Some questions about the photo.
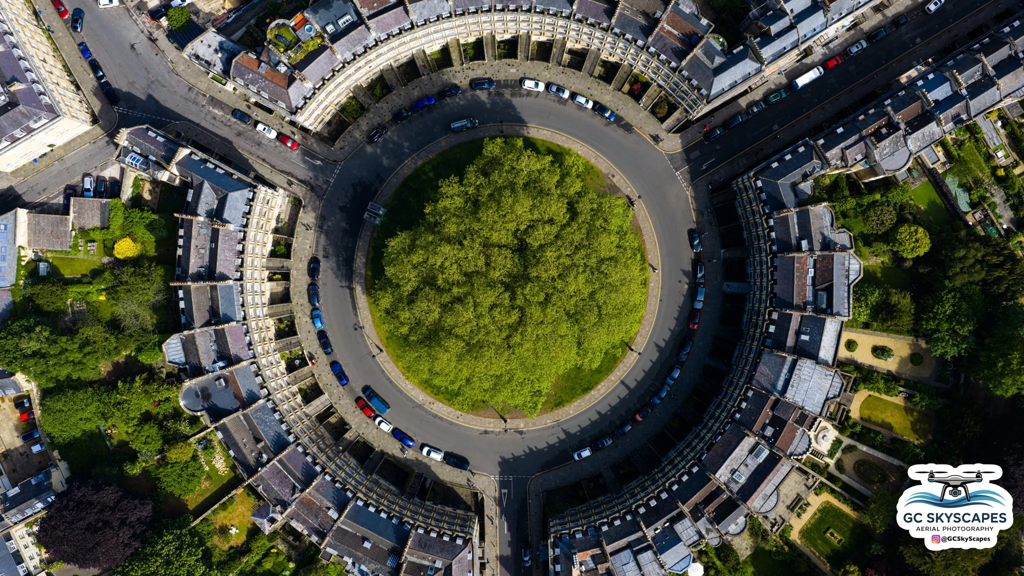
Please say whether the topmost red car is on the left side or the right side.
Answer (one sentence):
You can find the topmost red car on the left side of the picture.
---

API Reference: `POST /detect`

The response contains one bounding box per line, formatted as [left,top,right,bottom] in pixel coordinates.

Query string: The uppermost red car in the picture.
[51,0,71,20]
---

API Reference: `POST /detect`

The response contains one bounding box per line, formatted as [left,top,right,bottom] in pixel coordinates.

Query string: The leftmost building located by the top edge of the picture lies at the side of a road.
[0,0,101,183]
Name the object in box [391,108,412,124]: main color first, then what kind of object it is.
black car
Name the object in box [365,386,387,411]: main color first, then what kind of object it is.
blue vehicle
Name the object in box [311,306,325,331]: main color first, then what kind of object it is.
blue car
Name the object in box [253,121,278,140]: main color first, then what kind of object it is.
white car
